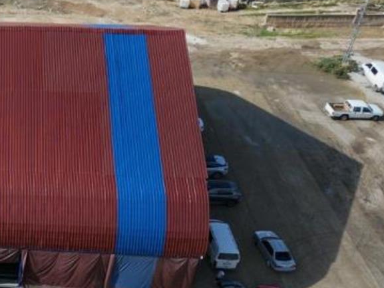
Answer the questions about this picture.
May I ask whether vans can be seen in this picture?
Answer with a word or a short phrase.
Yes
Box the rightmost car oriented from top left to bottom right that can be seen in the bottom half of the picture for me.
[251,231,301,270]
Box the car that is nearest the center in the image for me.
[207,157,228,180]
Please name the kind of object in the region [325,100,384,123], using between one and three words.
truck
